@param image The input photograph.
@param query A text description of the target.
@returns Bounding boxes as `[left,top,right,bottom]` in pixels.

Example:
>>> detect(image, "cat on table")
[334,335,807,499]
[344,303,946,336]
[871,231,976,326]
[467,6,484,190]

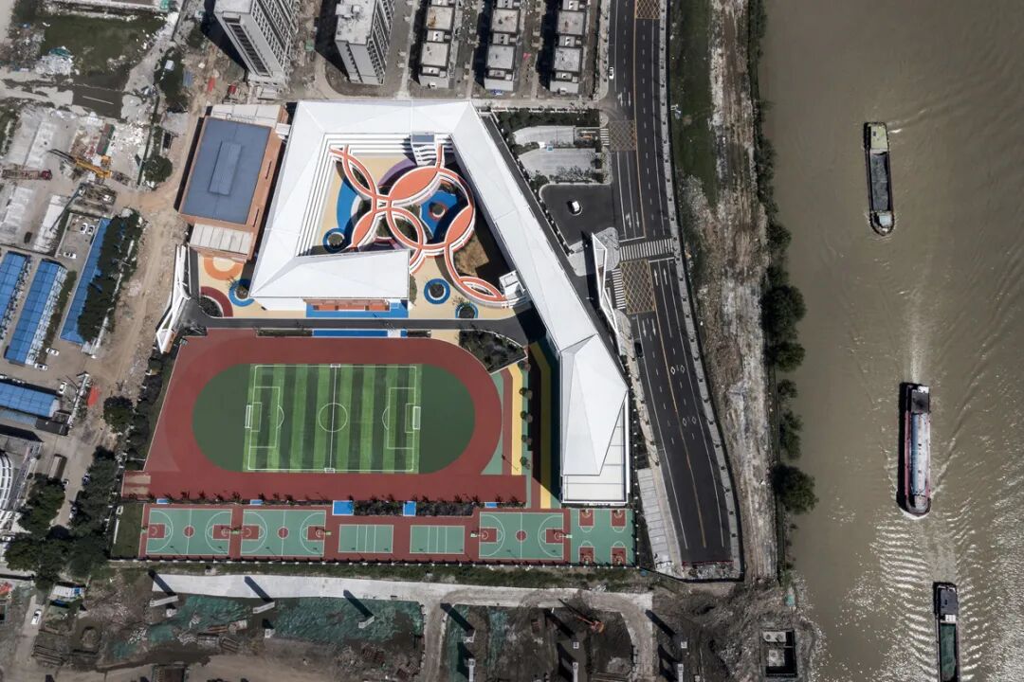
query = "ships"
[902,383,933,517]
[931,583,962,682]
[862,117,895,236]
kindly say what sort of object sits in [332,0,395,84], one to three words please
building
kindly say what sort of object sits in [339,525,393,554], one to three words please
sports court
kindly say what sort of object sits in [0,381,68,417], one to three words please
shed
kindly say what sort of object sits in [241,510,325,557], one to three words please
basketball court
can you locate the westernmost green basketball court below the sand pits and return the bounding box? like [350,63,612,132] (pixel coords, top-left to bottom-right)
[146,509,231,556]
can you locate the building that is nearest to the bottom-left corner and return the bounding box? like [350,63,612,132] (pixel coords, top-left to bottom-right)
[51,584,90,599]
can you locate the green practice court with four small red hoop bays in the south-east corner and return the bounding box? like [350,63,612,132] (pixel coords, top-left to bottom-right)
[571,509,634,565]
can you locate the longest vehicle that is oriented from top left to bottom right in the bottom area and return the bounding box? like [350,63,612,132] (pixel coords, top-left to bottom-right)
[553,593,607,636]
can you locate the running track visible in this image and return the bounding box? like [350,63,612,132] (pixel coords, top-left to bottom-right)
[124,329,526,503]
